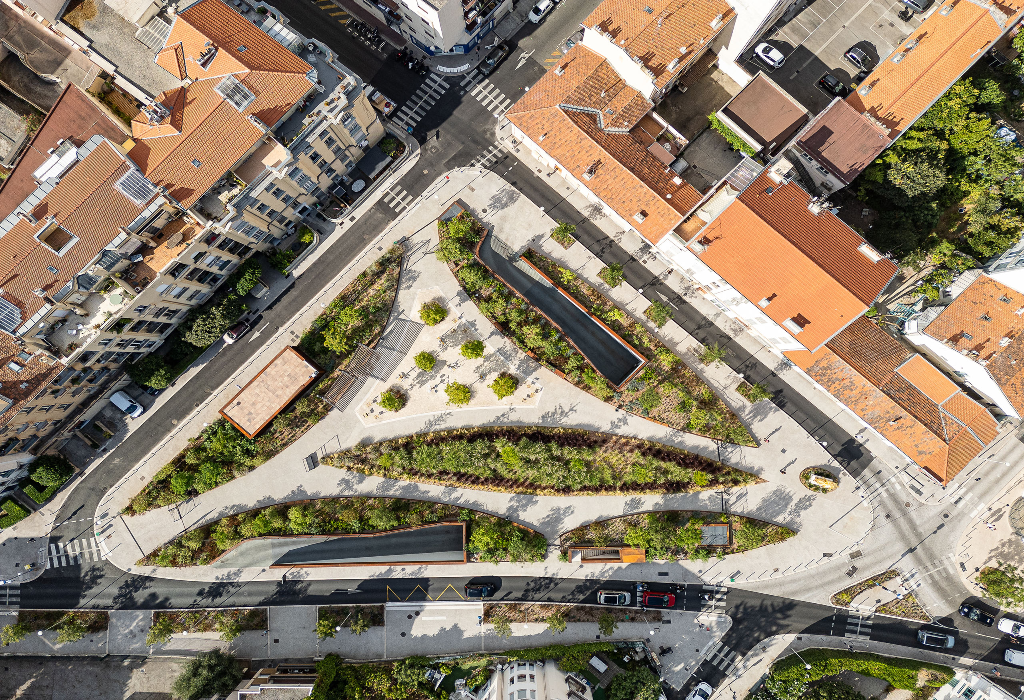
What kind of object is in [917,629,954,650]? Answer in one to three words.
car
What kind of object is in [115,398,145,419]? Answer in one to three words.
vehicle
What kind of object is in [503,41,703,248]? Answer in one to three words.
house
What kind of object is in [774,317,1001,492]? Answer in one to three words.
house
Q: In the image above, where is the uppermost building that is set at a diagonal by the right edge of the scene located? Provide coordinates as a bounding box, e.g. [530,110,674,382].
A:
[842,0,1003,135]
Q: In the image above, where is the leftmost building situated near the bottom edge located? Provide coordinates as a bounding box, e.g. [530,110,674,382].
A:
[237,648,337,700]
